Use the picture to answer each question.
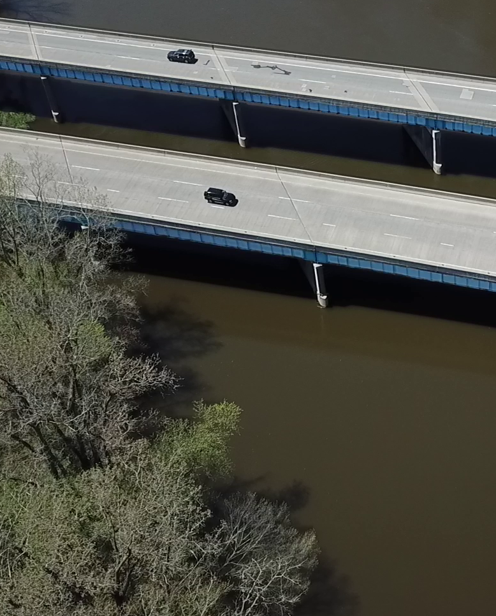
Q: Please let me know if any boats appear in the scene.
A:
No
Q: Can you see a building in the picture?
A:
No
